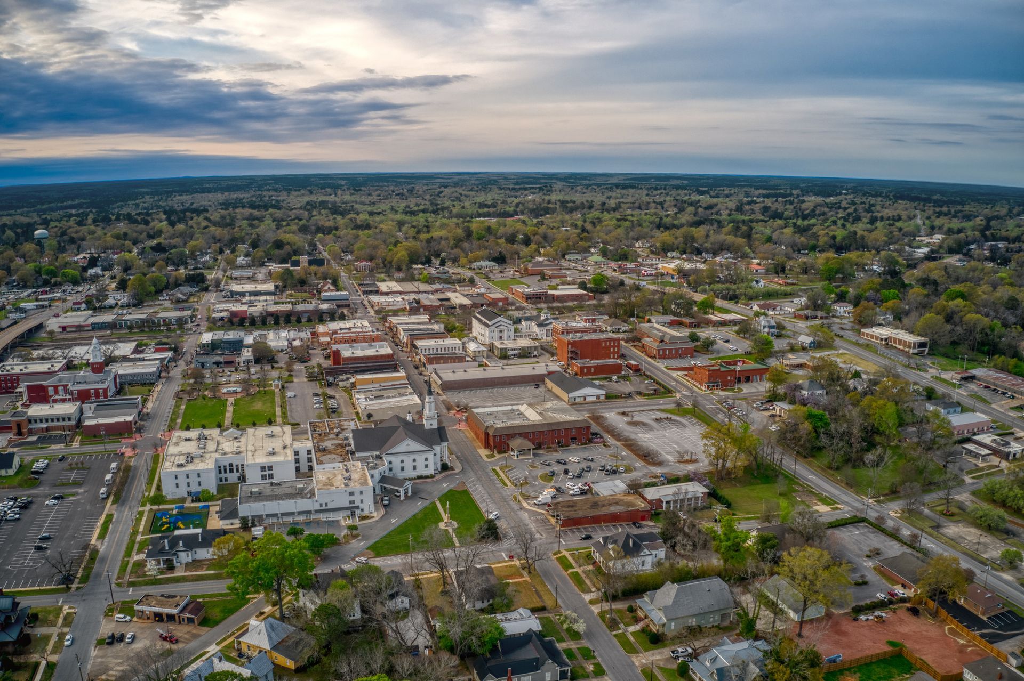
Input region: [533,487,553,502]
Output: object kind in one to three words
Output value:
vehicle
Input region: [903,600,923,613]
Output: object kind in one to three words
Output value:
vehicle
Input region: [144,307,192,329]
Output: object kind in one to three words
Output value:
building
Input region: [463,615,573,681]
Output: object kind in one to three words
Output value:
house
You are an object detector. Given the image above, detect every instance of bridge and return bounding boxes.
[0,304,56,355]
